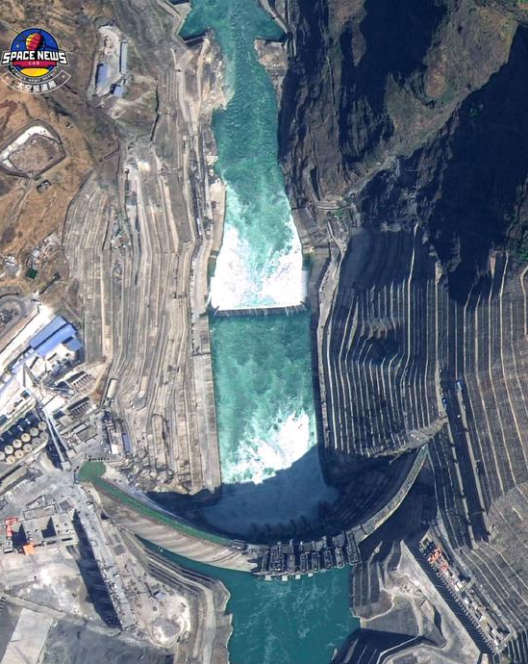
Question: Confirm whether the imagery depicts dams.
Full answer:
Yes, a dam is visible in the scene.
